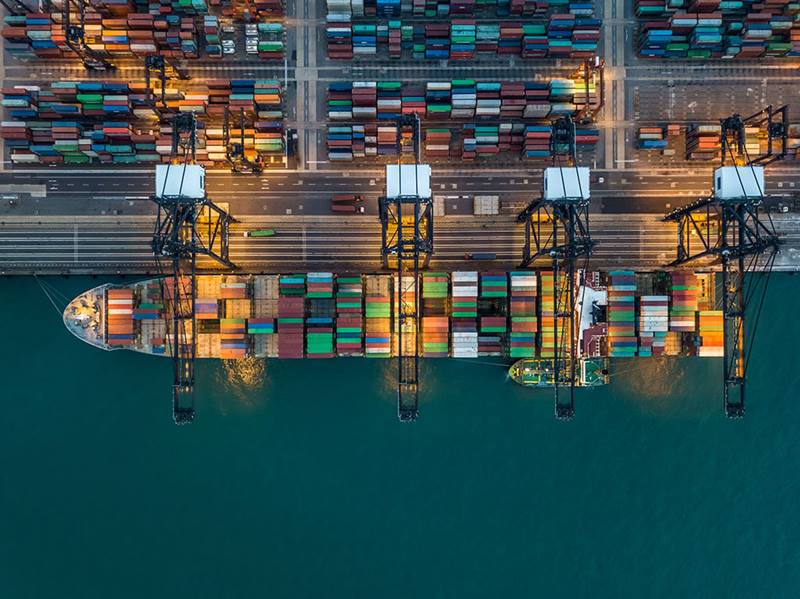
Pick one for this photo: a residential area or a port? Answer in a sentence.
What you see here is a port.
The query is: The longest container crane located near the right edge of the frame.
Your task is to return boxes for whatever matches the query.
[662,111,785,424]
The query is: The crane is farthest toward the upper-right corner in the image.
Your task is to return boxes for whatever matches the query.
[745,106,788,166]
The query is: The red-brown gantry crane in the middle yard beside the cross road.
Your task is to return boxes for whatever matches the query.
[568,59,604,123]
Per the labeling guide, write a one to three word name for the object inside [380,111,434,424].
container crane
